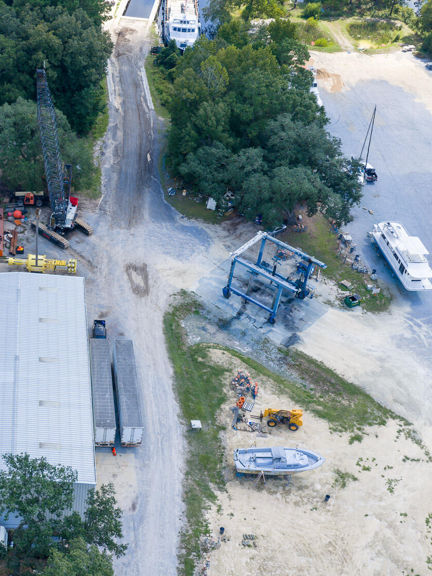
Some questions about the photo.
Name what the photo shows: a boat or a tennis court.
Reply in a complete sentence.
This aerial view contains a boat.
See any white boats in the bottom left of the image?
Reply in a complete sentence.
No, the scene shows no white boat in the bottom left of the image.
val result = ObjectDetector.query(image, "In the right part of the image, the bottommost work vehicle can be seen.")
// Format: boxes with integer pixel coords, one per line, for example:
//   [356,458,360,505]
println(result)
[251,407,311,430]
